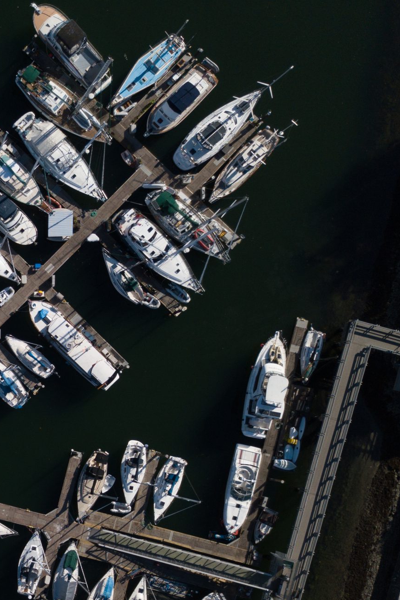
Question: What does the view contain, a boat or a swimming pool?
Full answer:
It is a boat that can be seen here.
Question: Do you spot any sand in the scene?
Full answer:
Yes, sand can be seen from above here.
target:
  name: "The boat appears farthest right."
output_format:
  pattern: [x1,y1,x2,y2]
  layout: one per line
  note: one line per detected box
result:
[299,329,338,382]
